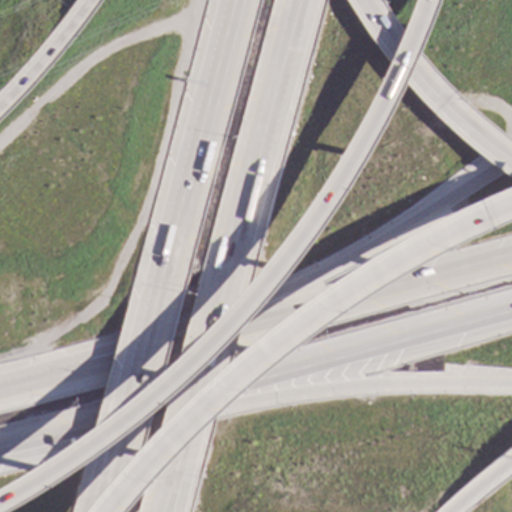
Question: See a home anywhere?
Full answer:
No, I can see no home in this picture.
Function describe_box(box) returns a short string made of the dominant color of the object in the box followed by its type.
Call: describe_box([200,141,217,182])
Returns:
white vehicle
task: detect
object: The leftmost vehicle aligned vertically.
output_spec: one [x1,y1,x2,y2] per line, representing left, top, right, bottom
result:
[160,224,176,266]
